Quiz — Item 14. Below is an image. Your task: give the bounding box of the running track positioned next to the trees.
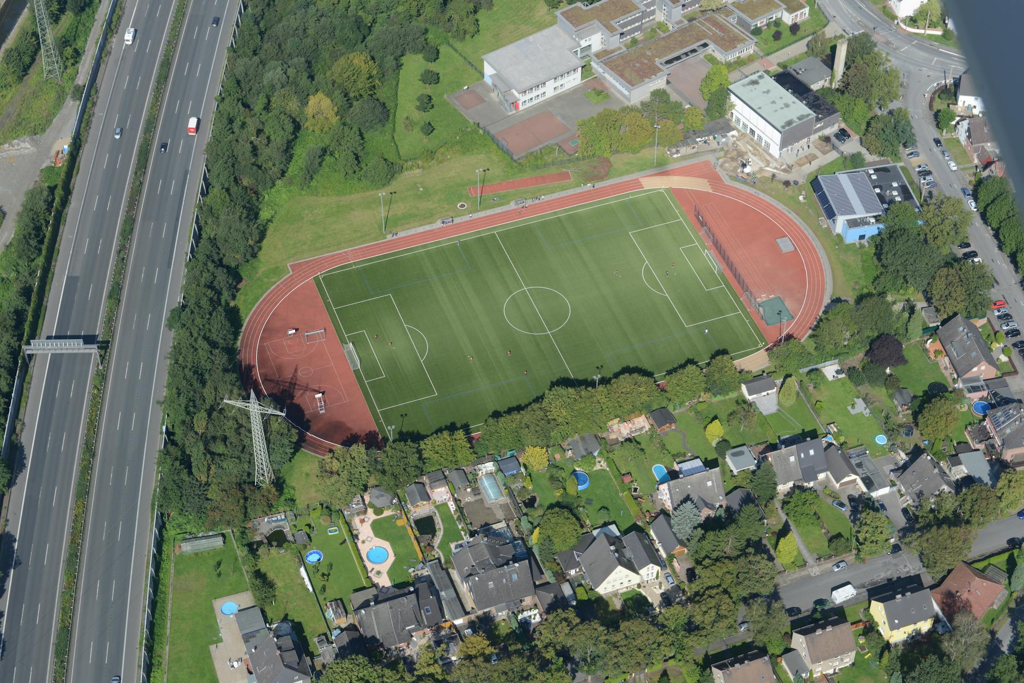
[239,179,824,463]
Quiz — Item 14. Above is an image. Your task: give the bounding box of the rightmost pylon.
[218,391,291,491]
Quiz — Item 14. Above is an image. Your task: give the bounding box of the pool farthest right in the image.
[972,401,991,417]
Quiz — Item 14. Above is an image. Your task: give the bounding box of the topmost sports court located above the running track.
[495,110,570,155]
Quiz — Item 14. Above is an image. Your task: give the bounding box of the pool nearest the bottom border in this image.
[221,601,239,618]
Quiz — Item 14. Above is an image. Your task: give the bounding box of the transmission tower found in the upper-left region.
[30,0,66,84]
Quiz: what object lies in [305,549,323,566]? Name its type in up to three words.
swimming pool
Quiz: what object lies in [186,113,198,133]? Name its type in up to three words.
vehicle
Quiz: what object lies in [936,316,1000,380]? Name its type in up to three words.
house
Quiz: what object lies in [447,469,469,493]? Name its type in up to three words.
shed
